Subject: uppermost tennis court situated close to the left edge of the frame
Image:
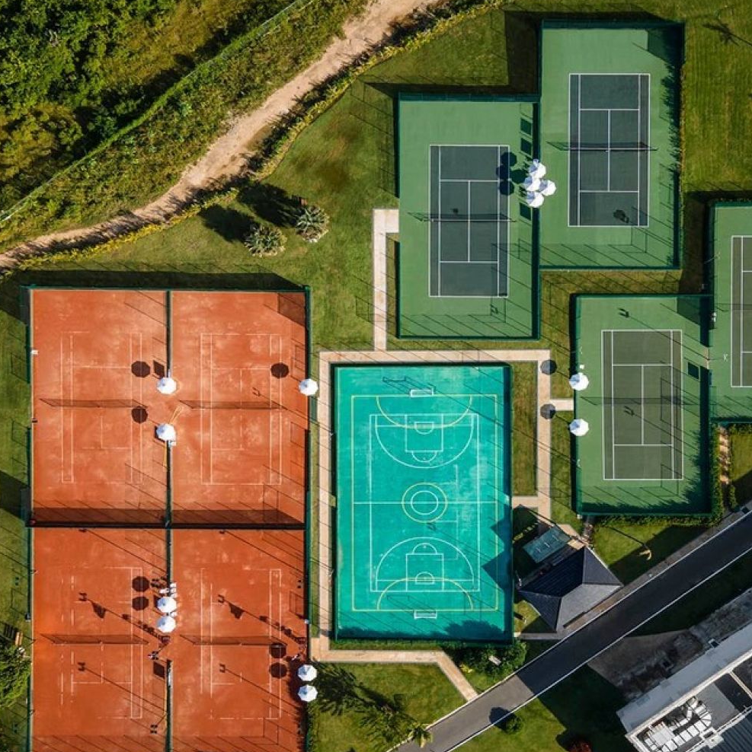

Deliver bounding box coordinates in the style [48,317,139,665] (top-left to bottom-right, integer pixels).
[32,290,169,526]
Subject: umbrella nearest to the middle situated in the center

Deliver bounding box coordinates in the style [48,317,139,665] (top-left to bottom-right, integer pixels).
[299,378,318,396]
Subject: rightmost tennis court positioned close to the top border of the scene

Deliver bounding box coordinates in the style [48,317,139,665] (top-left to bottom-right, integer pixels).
[540,29,678,268]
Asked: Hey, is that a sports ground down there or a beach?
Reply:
sports ground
